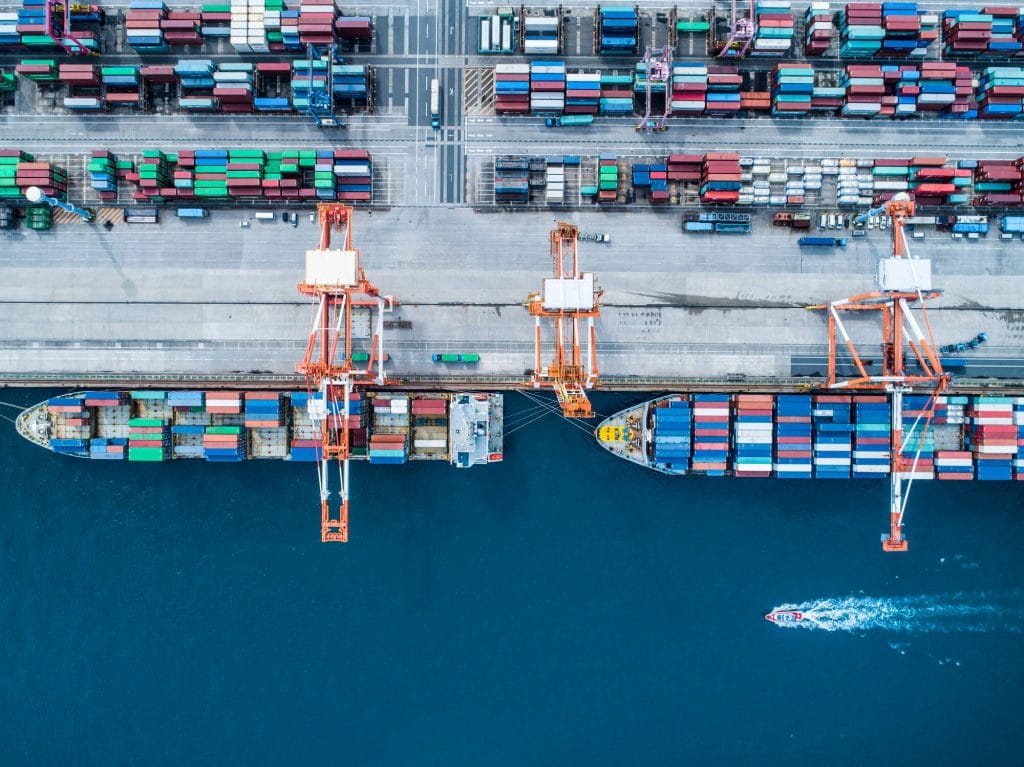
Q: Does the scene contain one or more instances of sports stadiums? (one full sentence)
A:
No, there is no sports stadium in the image.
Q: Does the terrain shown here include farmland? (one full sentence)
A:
No, farmland can't be seen anywhere here.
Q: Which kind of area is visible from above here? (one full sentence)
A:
This looks like a port.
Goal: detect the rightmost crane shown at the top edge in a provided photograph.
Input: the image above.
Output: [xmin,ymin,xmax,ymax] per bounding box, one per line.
[717,0,756,58]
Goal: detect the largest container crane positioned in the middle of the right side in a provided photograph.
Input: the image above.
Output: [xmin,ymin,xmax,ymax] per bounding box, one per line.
[812,202,953,550]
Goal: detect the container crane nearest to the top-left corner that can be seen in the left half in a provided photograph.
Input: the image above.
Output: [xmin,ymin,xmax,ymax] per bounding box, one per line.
[44,0,95,54]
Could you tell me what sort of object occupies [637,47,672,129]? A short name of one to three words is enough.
container crane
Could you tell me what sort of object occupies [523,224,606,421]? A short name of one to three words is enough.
container crane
